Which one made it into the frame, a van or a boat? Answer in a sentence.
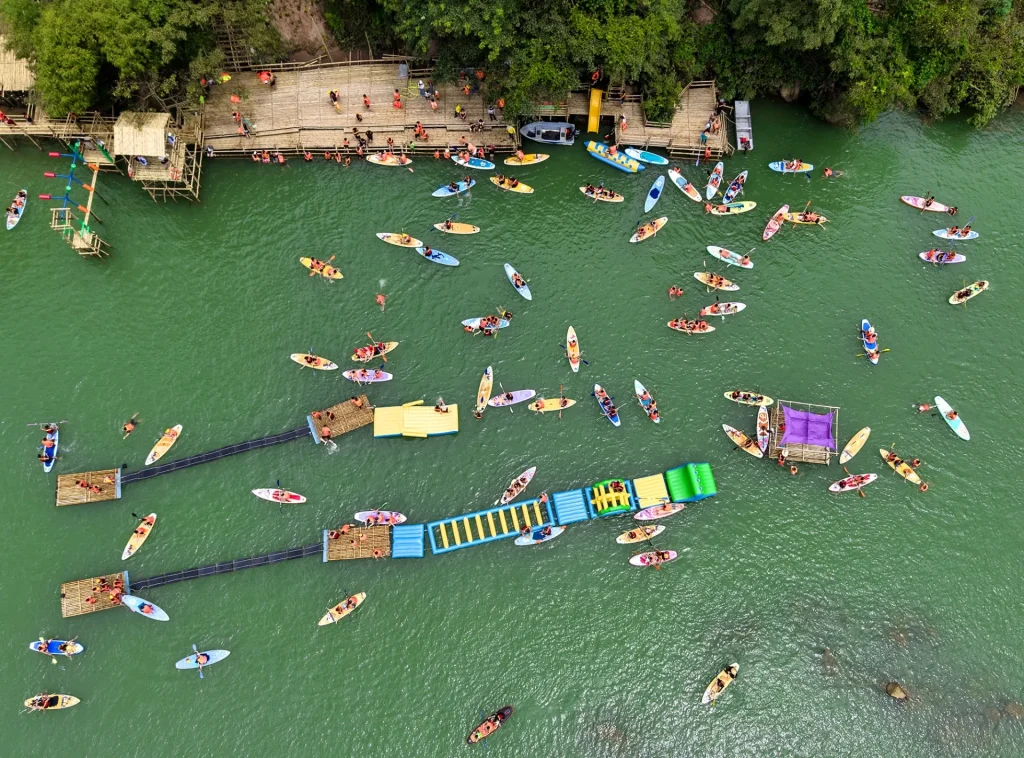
Of the two, only a boat appears.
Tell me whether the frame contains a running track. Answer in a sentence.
No, I can see no running track in this picture.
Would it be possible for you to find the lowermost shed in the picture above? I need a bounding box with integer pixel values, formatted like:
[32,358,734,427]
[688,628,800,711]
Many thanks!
[109,110,204,202]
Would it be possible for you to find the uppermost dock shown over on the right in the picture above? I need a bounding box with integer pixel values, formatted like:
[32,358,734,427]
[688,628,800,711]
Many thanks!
[540,79,735,160]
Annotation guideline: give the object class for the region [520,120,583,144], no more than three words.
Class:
boat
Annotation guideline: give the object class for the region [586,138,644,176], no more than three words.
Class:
boat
